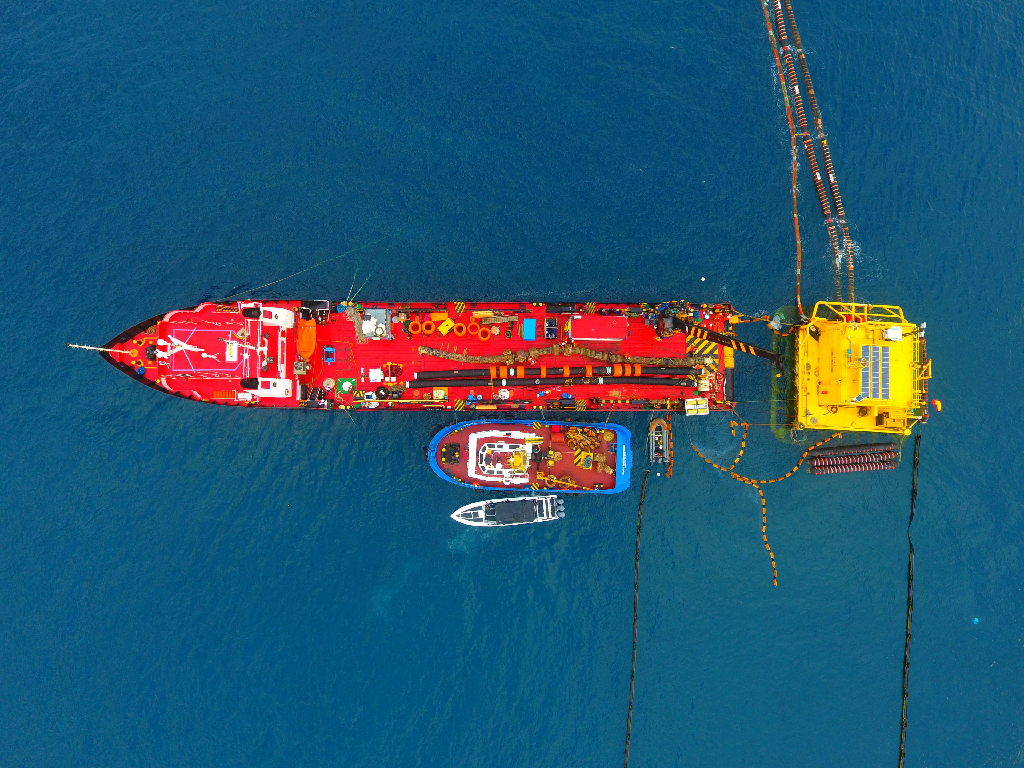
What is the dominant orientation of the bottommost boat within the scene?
horizontally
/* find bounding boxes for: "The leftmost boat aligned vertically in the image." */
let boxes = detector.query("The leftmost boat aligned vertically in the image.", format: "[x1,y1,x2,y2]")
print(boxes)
[298,319,316,358]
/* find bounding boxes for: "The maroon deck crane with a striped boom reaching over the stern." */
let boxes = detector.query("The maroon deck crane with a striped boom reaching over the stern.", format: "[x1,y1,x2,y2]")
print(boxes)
[653,299,784,379]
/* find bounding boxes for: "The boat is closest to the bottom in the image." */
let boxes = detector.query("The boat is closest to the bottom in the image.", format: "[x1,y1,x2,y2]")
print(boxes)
[451,495,565,526]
